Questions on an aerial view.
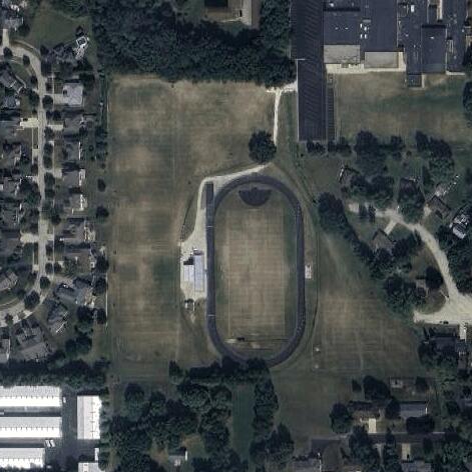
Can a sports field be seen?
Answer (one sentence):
Yes, the image includes a sports field.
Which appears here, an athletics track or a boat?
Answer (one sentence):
I can see an athletics track in this picture.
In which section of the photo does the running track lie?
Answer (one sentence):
The running track appears toward the center of the photo.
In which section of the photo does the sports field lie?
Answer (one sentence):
You can find the sports field in the center area of the picture.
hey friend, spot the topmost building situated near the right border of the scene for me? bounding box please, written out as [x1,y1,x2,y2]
[324,0,467,86]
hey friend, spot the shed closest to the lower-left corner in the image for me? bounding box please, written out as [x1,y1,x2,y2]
[0,448,45,468]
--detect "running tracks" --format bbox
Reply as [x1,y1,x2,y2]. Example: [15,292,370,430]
[206,174,305,365]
